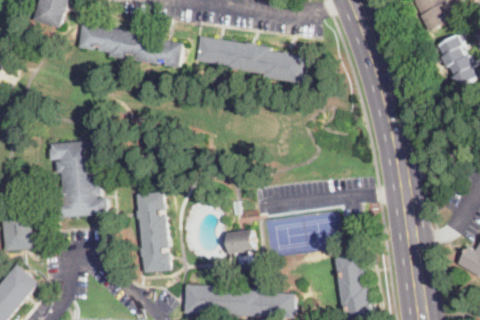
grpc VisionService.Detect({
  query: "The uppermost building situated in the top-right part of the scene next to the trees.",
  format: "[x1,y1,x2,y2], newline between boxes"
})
[418,0,447,32]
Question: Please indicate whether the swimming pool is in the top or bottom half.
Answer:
bottom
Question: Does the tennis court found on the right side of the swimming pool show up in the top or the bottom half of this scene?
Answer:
bottom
